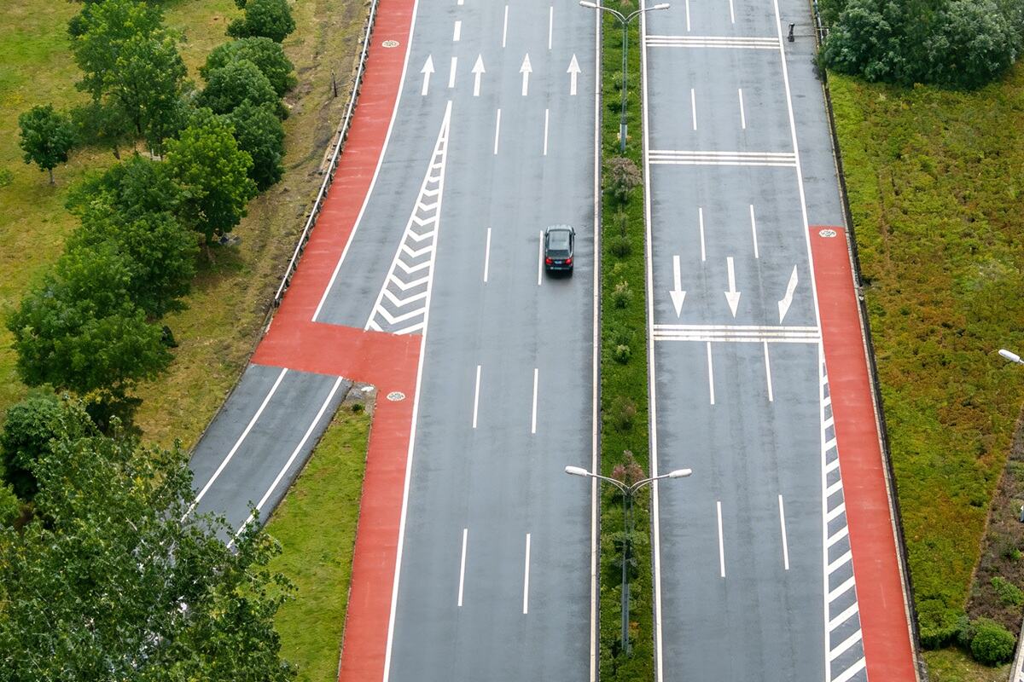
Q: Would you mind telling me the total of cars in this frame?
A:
1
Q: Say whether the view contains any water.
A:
No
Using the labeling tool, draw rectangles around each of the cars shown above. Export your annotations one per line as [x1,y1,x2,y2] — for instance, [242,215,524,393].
[543,225,577,275]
